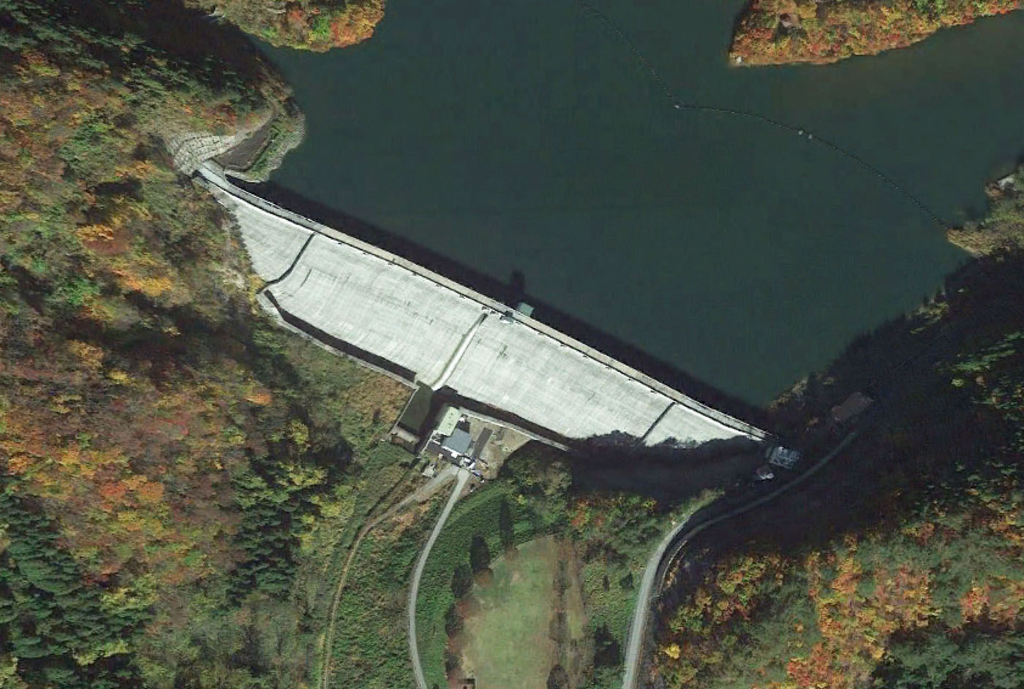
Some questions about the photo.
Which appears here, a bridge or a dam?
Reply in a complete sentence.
Looking from above, you can make out a dam.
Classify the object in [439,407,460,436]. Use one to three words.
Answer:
building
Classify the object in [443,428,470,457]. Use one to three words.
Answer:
building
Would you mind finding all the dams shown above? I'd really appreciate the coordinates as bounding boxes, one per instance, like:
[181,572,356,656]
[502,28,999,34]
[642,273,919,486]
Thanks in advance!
[195,159,783,456]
